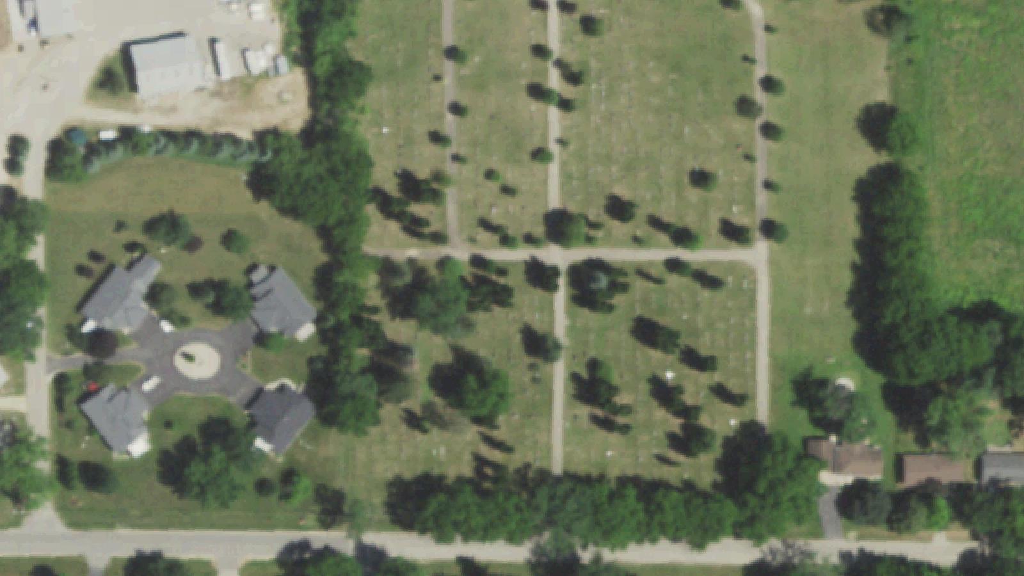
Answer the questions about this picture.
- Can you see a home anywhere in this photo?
Yes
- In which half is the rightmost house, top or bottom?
bottom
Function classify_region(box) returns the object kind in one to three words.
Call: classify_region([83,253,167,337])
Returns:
house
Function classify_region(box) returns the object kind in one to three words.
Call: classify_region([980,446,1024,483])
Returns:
house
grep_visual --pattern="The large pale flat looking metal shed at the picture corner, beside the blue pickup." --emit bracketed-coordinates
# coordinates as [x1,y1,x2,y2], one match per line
[36,0,87,35]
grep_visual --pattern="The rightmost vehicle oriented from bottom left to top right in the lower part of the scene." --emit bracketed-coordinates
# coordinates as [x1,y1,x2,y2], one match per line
[142,377,161,393]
